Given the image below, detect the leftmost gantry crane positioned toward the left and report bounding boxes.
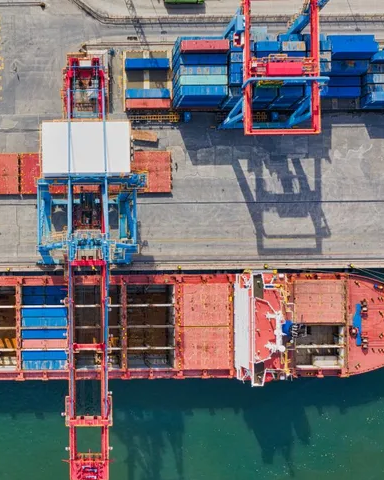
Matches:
[32,50,152,480]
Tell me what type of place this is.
port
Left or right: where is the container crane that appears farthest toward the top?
right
